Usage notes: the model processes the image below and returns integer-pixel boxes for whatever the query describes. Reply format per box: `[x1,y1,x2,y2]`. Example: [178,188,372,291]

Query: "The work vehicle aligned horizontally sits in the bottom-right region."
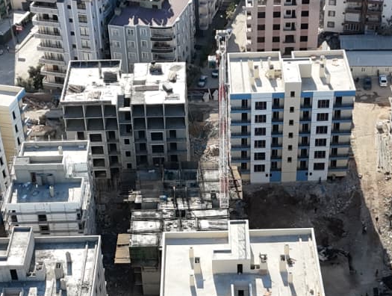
[320,242,357,260]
